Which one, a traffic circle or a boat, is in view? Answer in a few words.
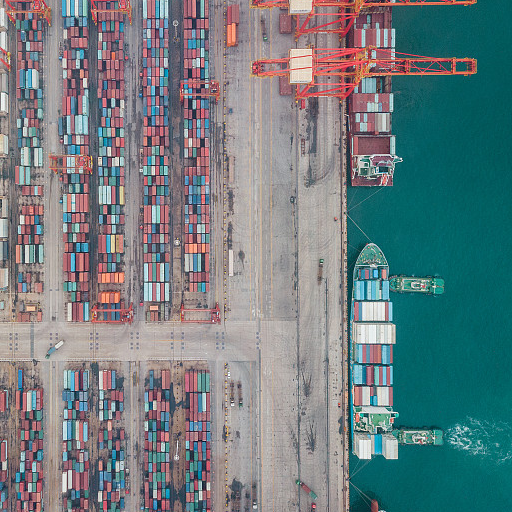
boat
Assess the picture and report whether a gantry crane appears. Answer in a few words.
Yes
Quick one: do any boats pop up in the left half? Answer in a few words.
No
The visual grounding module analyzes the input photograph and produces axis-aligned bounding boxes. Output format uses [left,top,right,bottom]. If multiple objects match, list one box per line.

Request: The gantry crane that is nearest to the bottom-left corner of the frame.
[91,301,134,323]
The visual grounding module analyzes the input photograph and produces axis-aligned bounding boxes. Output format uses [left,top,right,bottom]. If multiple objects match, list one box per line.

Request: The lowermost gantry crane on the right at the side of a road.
[251,42,478,106]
